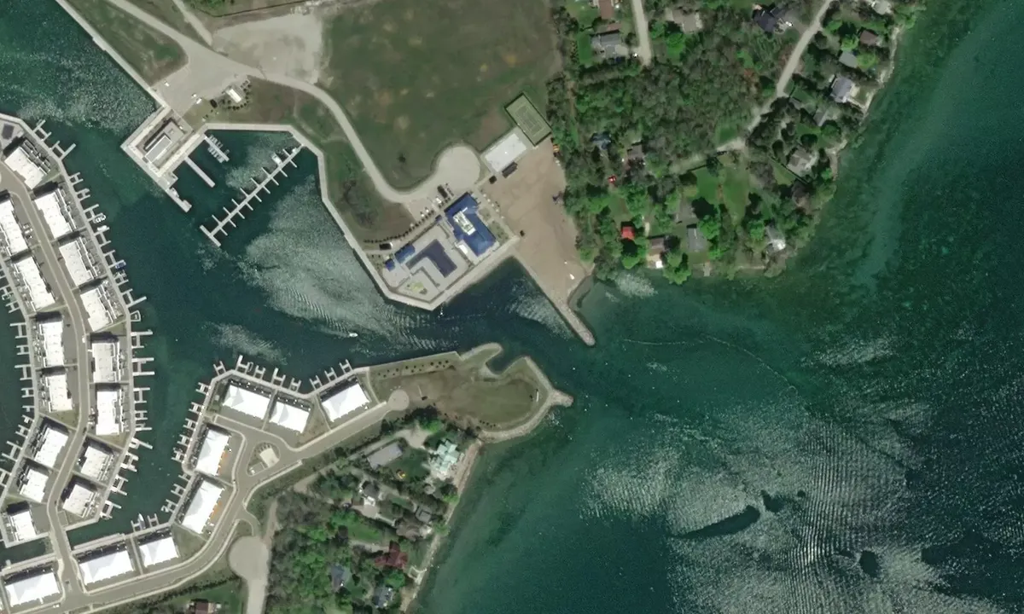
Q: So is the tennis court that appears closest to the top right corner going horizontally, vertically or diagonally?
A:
diagonally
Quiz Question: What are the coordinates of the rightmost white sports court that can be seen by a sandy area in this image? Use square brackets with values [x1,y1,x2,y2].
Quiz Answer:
[484,132,527,171]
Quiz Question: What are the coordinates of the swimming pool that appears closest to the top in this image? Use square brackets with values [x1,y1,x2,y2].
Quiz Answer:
[1,124,14,140]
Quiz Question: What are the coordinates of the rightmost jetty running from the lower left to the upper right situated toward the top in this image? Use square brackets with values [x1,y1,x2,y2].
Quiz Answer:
[200,144,304,247]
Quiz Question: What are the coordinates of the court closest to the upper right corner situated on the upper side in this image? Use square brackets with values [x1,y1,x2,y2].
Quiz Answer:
[504,92,549,145]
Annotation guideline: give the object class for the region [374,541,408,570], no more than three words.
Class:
house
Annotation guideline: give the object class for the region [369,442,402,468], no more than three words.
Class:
house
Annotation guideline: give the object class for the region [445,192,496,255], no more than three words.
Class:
building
